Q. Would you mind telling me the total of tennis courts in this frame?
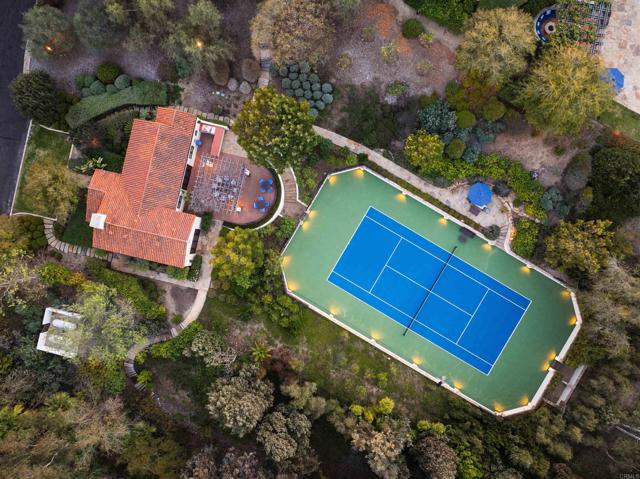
1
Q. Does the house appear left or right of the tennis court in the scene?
to the left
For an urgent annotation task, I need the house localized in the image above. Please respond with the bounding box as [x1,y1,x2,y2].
[86,106,202,268]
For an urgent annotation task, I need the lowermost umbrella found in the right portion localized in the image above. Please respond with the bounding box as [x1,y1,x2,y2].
[466,181,492,207]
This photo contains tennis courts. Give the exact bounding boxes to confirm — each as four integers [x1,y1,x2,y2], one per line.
[283,168,577,411]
